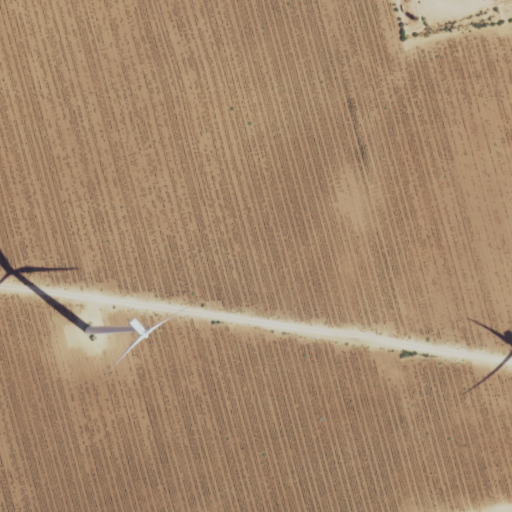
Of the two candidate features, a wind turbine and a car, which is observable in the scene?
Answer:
wind turbine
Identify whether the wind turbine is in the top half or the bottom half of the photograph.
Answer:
bottom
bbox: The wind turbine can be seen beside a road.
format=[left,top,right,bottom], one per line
[84,306,189,376]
